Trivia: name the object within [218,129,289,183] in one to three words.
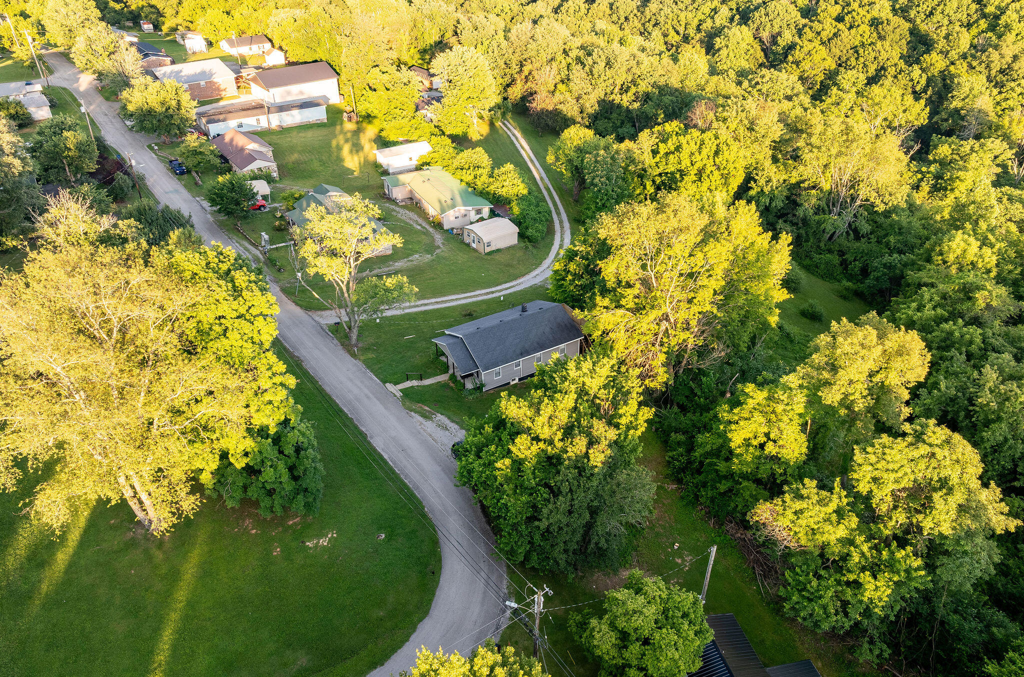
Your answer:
house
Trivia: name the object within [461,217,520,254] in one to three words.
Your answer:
building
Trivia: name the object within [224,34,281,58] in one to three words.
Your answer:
house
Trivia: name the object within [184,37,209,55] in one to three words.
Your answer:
shed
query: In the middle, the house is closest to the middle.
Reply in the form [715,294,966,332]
[428,300,585,392]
